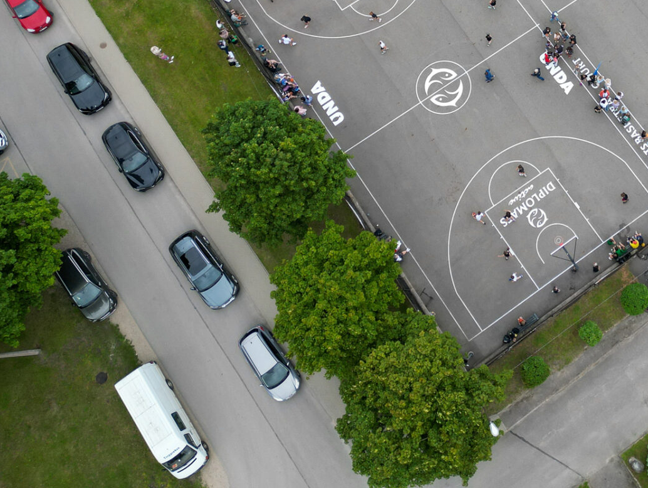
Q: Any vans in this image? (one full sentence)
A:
Yes, there's a van down there.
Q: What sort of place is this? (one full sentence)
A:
This looks like a sports ground.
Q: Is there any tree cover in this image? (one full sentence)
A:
Yes, tree cover shows up in the scene.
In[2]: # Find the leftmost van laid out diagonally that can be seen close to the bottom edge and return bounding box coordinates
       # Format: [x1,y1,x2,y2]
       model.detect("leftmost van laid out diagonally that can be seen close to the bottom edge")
[112,359,210,480]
